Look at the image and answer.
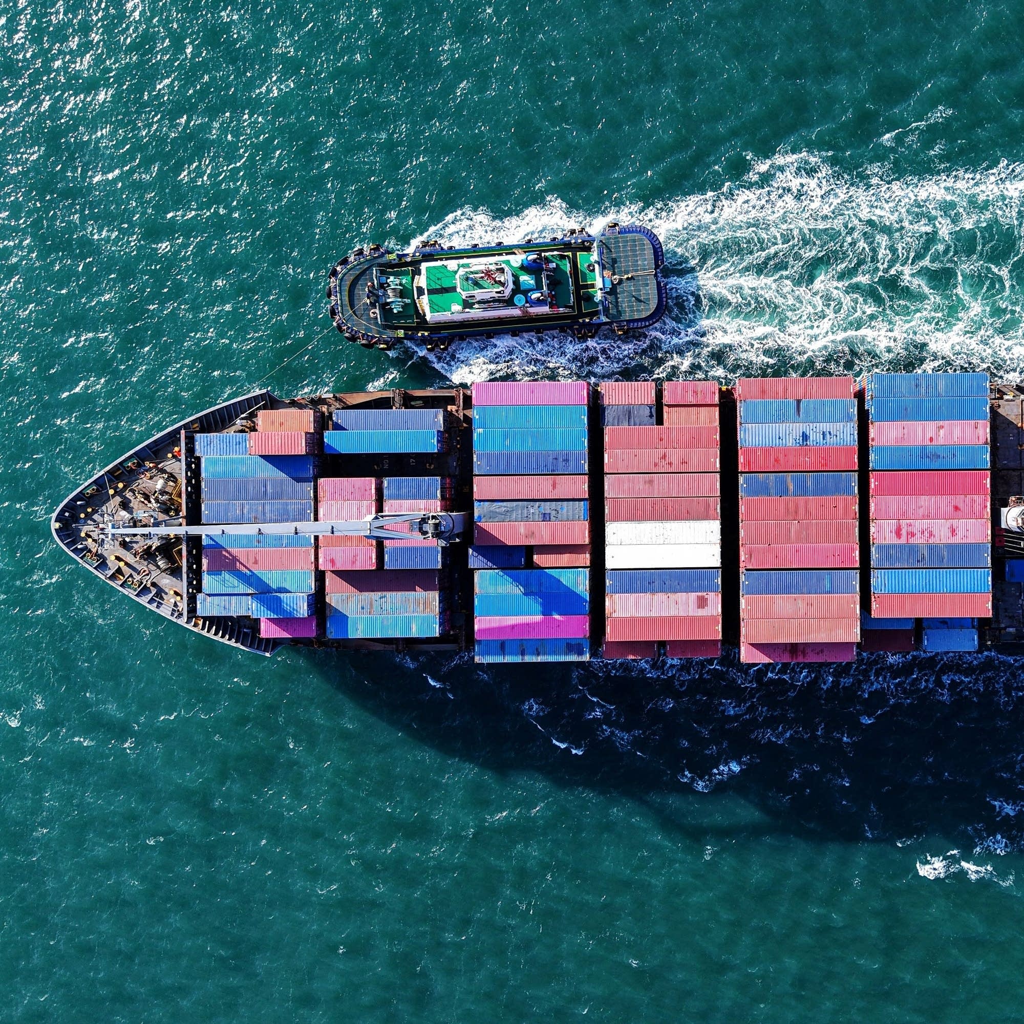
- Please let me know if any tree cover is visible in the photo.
No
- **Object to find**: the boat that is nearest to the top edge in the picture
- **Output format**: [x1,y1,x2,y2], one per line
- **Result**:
[323,222,667,352]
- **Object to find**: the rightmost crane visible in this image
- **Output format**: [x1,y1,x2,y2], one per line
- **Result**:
[990,491,1024,554]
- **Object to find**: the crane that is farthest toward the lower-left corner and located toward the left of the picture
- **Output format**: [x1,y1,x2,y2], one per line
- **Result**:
[108,508,475,547]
